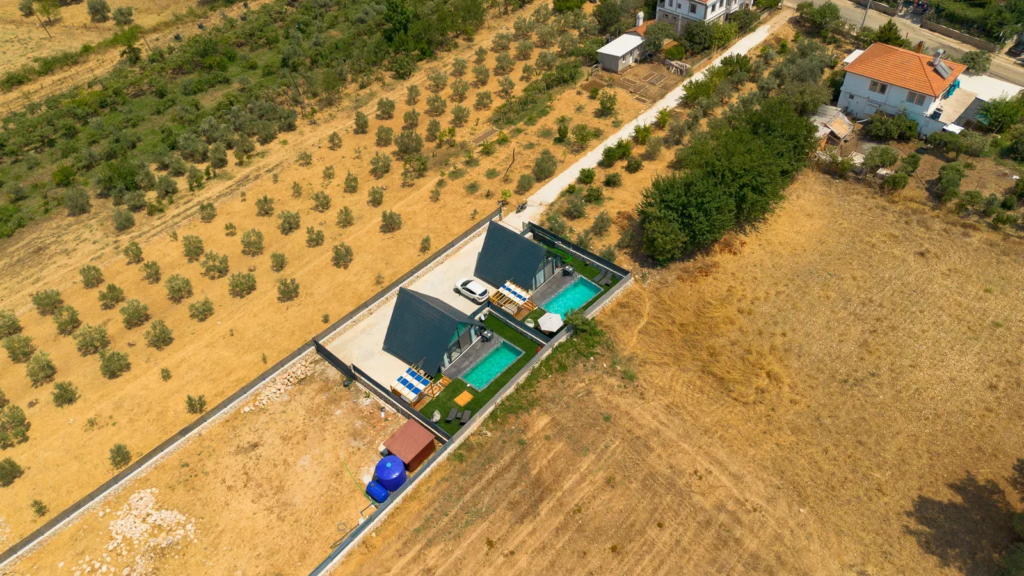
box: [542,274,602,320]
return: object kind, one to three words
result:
swimming pool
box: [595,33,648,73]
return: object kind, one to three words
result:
shed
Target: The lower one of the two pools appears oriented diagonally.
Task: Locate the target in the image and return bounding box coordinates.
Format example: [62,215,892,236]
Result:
[458,339,525,392]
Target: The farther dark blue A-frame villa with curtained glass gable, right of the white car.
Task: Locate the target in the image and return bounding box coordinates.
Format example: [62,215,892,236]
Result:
[473,222,570,303]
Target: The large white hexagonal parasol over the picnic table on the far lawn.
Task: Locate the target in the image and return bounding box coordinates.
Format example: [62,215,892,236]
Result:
[534,310,566,335]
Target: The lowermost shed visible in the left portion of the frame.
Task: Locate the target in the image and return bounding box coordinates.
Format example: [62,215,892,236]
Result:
[383,419,435,474]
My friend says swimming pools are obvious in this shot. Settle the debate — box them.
[458,339,525,392]
[542,274,602,320]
